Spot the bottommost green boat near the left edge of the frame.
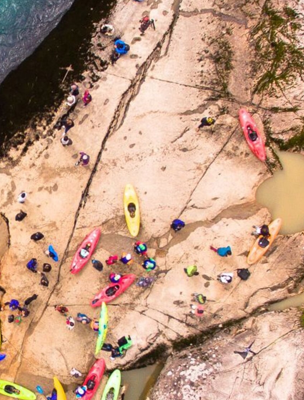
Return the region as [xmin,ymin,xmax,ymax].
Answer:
[0,380,35,400]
